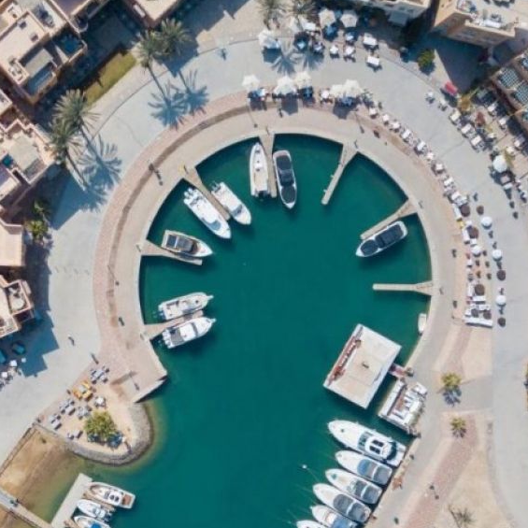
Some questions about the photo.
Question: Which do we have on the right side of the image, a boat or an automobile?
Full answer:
Visible on the right side of the image is a boat.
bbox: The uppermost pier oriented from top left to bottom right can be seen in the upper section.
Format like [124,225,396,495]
[184,168,230,220]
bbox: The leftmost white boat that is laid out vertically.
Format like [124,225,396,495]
[248,142,268,199]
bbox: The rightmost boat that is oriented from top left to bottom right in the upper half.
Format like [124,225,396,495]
[210,183,249,224]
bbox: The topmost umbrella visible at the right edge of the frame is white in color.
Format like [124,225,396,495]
[492,157,507,171]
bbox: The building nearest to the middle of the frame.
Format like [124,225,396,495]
[323,324,401,409]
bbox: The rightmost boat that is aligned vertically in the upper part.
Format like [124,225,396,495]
[273,148,295,209]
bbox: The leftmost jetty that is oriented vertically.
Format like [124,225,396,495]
[259,134,276,198]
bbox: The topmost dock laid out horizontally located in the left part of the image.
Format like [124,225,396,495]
[141,240,203,265]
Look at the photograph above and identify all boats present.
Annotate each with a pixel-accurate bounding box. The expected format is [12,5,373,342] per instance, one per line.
[75,515,113,528]
[273,148,295,209]
[183,187,230,238]
[78,500,112,520]
[210,183,249,224]
[161,317,218,348]
[155,293,216,322]
[248,142,268,199]
[310,505,358,528]
[312,484,376,527]
[161,230,214,257]
[325,470,383,507]
[89,483,134,508]
[335,451,397,488]
[356,222,409,255]
[327,419,411,470]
